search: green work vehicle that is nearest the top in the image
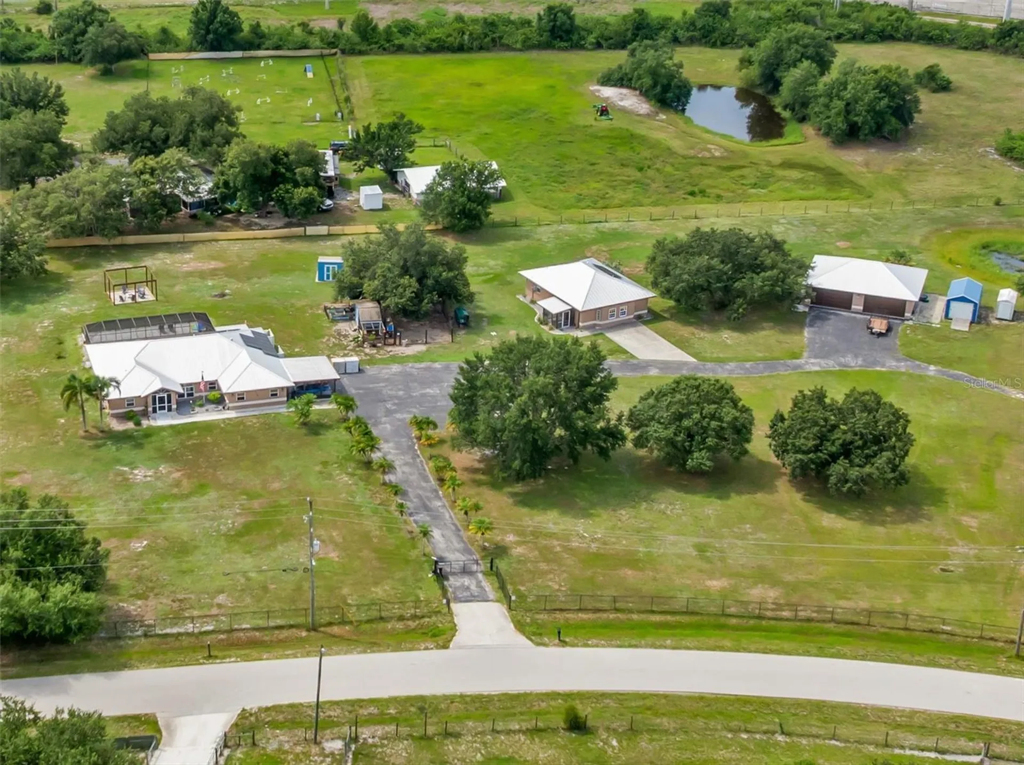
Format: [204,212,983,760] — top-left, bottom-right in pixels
[589,103,615,121]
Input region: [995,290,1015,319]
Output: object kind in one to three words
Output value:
shed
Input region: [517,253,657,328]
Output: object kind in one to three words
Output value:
house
